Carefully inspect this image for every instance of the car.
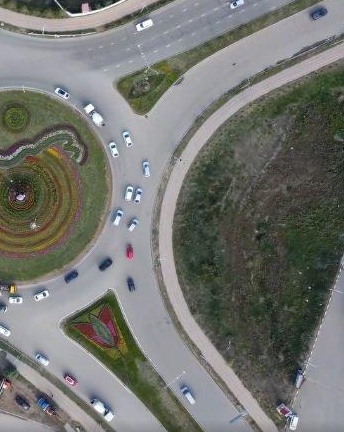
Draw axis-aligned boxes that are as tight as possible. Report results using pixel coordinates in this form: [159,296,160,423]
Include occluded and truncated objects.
[141,161,150,176]
[34,289,50,300]
[125,186,133,201]
[310,7,327,19]
[98,256,113,271]
[180,386,195,404]
[122,131,133,147]
[63,372,78,386]
[126,243,133,259]
[108,141,119,157]
[63,269,79,283]
[8,296,22,302]
[228,0,245,9]
[128,217,138,232]
[0,324,11,336]
[14,396,30,409]
[54,87,70,99]
[112,210,123,226]
[34,352,50,366]
[134,188,141,203]
[135,18,153,31]
[126,276,136,291]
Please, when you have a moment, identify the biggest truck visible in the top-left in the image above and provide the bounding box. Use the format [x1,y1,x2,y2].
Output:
[82,101,105,125]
